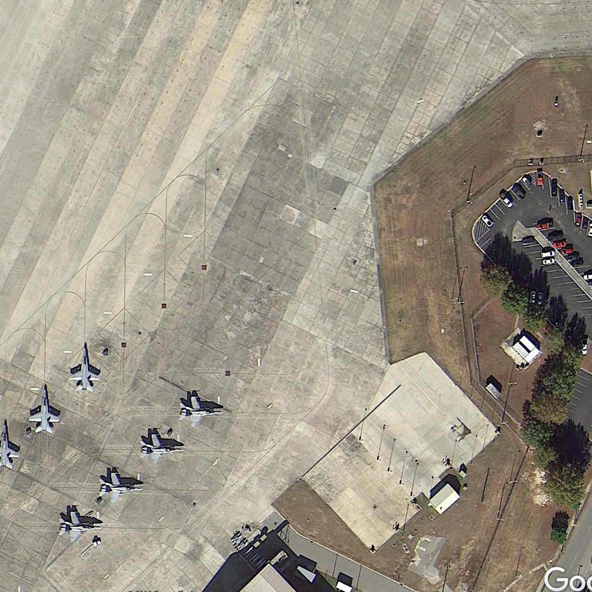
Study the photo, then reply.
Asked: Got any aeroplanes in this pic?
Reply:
Yes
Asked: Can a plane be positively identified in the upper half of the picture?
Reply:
No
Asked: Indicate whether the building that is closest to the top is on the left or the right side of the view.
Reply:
right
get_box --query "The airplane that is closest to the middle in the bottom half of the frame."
[179,398,223,428]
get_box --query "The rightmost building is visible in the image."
[512,336,543,364]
